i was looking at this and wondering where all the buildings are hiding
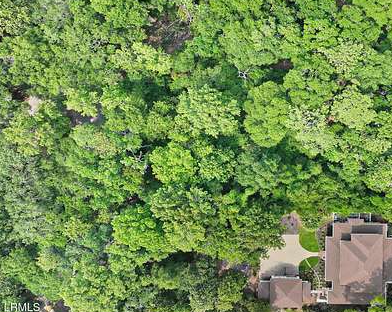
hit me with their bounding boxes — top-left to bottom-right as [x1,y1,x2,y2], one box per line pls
[258,274,311,309]
[322,216,392,305]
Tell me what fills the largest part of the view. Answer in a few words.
trees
